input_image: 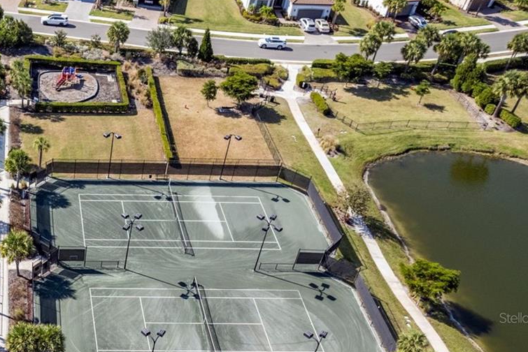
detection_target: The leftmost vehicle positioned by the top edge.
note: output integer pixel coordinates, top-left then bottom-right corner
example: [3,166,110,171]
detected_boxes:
[42,13,68,26]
